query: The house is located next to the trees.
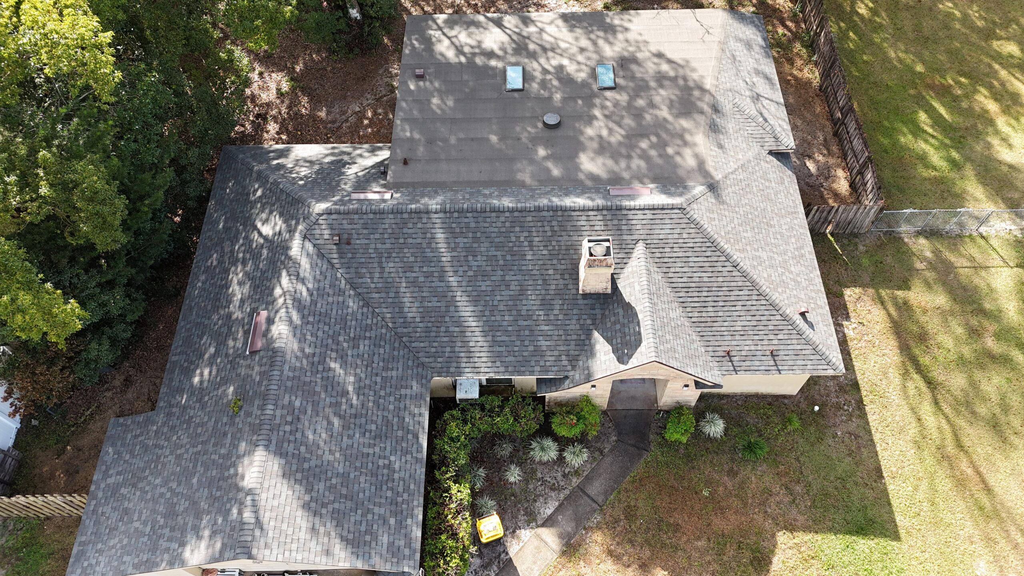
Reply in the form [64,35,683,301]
[67,8,845,576]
